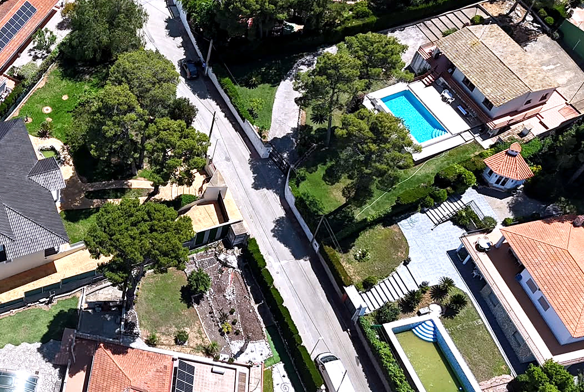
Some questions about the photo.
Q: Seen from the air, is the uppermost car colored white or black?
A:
black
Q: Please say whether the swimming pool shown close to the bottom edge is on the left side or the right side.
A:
right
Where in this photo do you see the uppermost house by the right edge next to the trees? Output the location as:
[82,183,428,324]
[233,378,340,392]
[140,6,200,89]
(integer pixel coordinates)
[420,24,568,129]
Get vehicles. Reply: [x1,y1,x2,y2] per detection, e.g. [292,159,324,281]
[312,348,366,392]
[178,57,202,83]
